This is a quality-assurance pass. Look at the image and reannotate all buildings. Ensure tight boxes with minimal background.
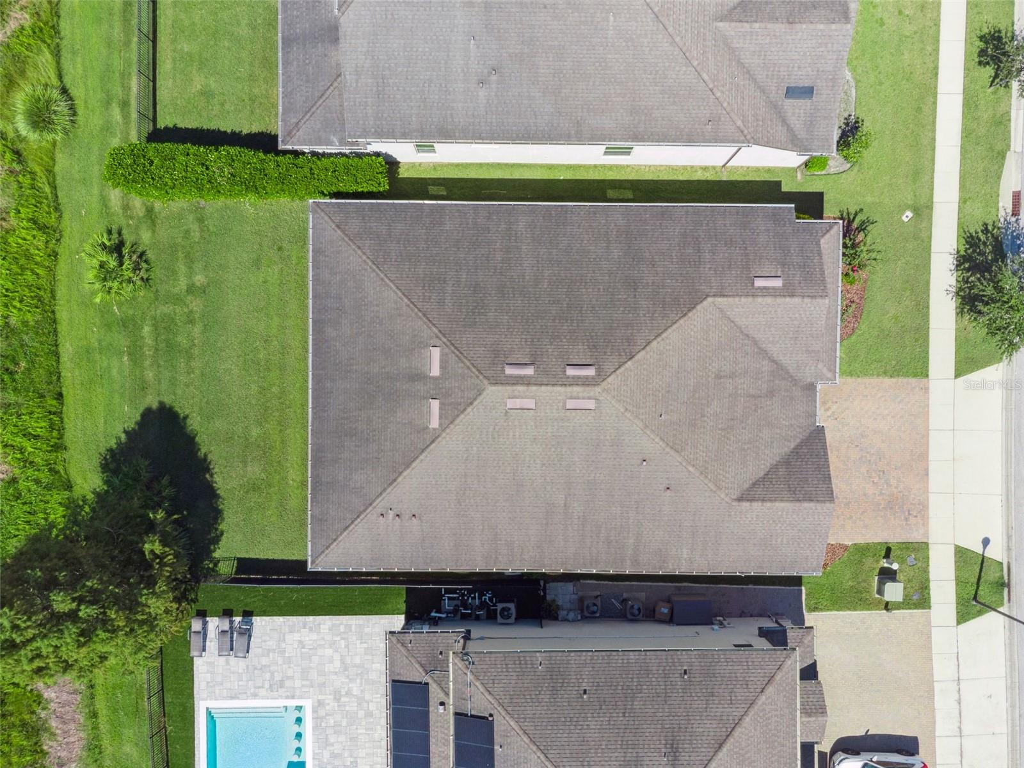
[279,0,856,175]
[308,201,842,572]
[387,618,826,768]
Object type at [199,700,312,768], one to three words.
swimming pool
